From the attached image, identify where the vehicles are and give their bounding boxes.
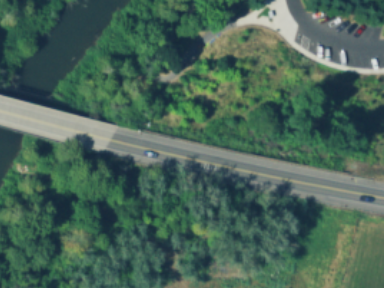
[356,26,365,36]
[317,46,323,58]
[326,48,330,60]
[146,152,157,158]
[372,59,378,69]
[329,18,342,28]
[338,22,348,32]
[341,51,346,64]
[362,196,373,202]
[313,14,324,20]
[348,24,358,34]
